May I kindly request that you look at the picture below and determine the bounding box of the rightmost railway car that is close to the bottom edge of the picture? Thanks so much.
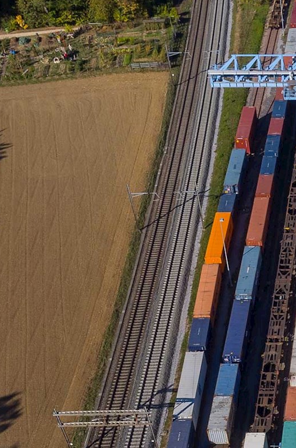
[254,343,285,445]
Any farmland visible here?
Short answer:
Yes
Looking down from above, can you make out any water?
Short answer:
No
